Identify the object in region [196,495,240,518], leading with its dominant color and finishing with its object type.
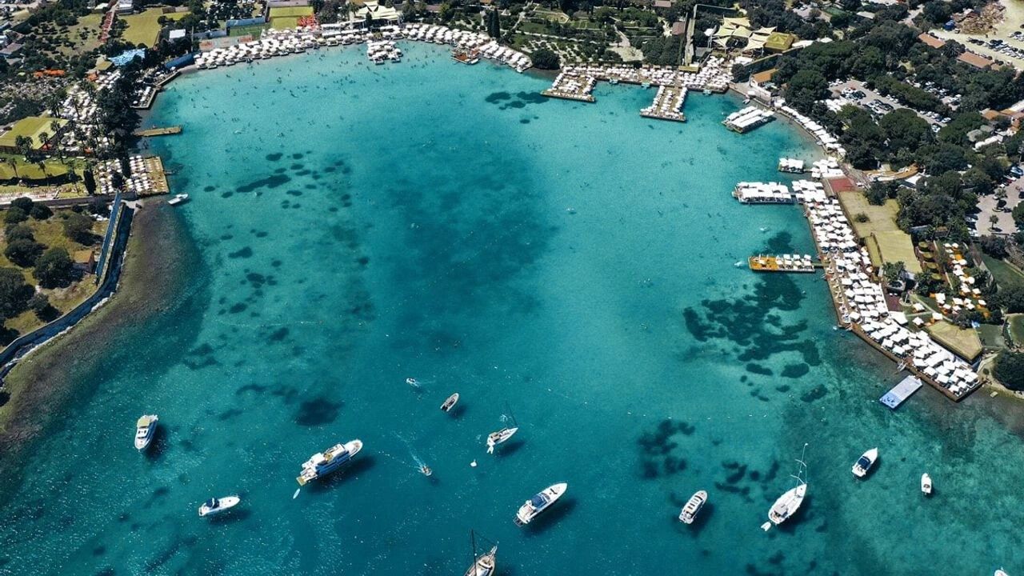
white boat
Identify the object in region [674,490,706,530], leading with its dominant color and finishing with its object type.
white boat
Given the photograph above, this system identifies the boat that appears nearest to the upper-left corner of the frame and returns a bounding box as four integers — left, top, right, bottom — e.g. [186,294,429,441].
[168,194,188,206]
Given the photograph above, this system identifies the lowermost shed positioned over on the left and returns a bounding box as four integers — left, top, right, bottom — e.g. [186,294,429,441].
[74,246,94,270]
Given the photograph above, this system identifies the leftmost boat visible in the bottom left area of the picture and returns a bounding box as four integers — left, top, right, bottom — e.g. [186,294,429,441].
[137,411,160,451]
